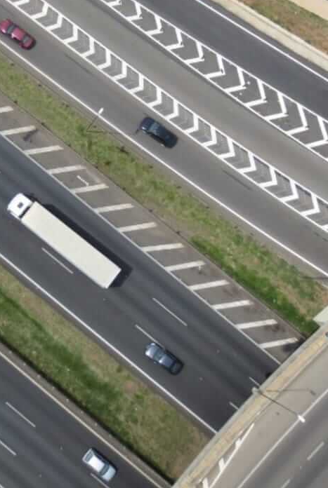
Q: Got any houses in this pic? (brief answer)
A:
No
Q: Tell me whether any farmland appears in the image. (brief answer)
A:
No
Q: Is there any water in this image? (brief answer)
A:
No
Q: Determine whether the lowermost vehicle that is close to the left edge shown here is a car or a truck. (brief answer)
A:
truck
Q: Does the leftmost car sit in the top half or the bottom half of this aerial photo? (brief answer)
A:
top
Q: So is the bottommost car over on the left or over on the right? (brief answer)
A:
left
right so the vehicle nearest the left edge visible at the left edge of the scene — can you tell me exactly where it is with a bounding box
[0,18,35,50]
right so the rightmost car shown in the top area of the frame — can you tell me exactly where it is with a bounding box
[139,116,178,148]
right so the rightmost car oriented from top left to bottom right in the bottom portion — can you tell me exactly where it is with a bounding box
[146,341,183,375]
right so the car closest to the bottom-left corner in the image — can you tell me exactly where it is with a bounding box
[82,447,116,481]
